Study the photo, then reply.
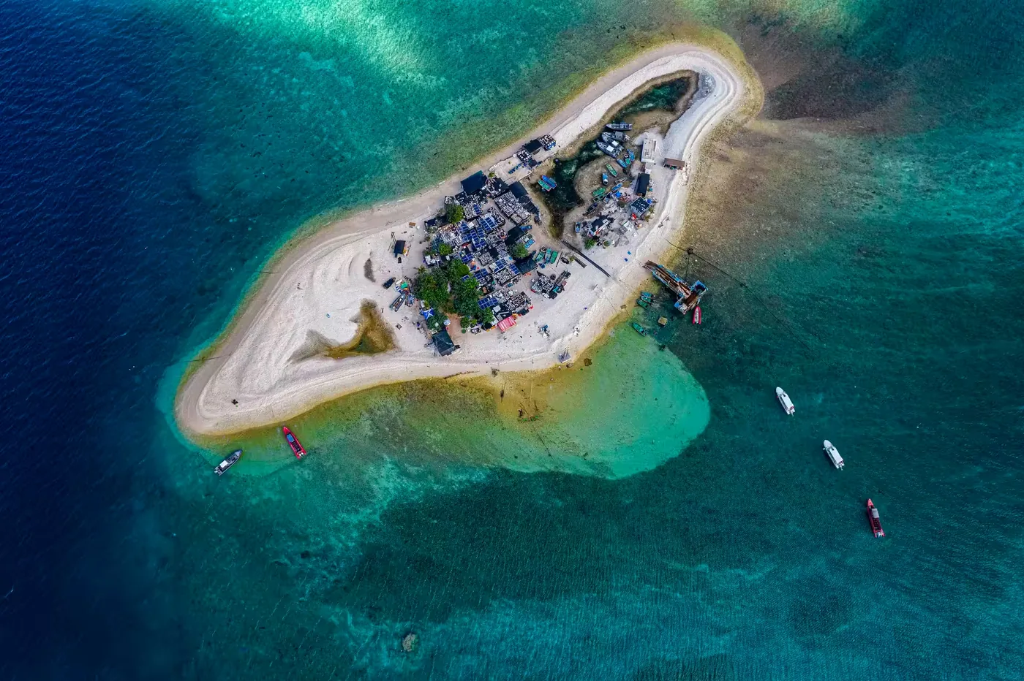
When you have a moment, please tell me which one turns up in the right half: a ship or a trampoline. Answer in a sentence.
The one visible in the right half is a ship.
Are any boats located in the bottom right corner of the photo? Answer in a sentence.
Yes, a boat can be seen in the bottom right corner of the photo.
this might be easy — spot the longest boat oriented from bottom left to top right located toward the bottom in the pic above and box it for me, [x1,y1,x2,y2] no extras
[212,450,242,478]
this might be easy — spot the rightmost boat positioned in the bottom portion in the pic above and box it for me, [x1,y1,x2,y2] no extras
[869,499,887,542]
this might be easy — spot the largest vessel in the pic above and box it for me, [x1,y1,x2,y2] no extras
[643,260,709,315]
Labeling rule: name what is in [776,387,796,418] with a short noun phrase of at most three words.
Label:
boat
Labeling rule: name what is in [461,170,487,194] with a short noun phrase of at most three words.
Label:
house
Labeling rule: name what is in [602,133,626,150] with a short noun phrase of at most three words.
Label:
boat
